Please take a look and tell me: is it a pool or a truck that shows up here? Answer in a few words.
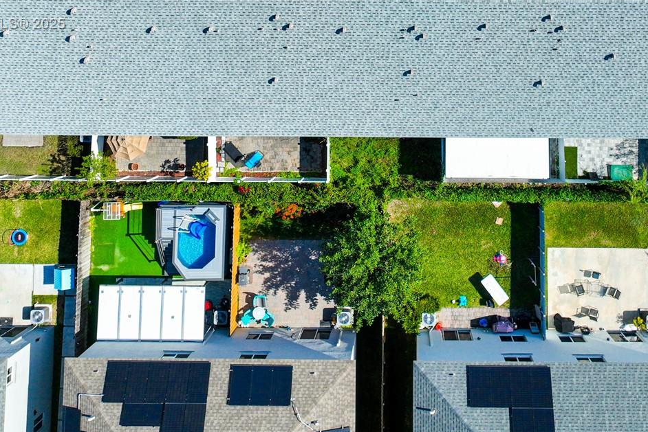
pool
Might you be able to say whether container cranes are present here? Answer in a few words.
No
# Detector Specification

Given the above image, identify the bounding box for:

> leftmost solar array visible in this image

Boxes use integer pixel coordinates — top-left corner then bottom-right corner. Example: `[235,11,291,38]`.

[62,406,81,432]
